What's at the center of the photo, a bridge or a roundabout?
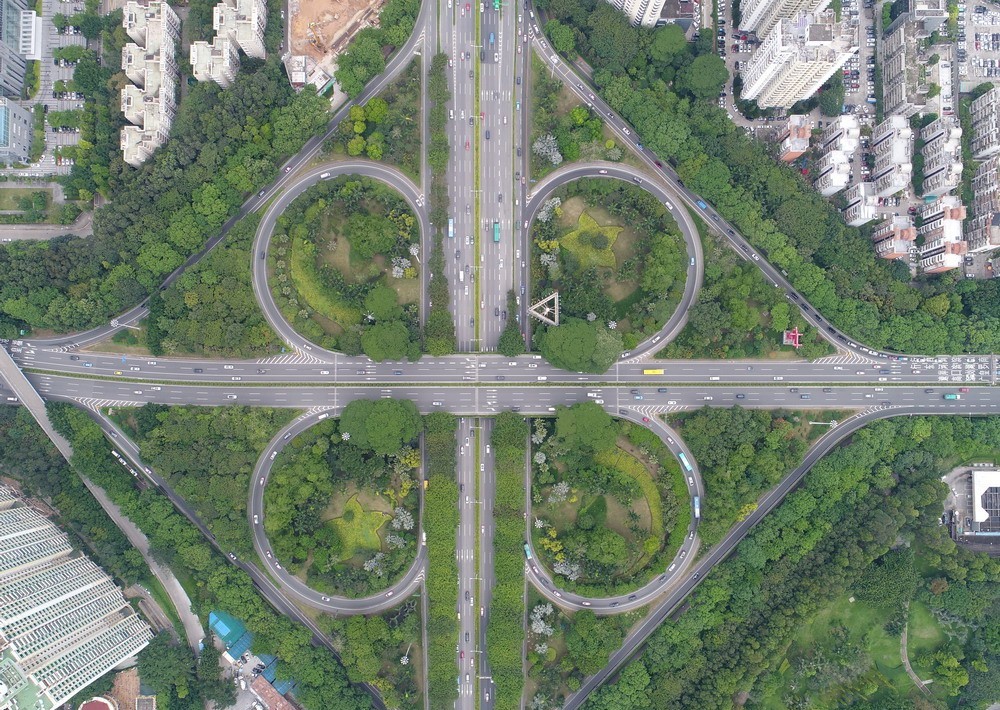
bridge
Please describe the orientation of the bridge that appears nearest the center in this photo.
from left to right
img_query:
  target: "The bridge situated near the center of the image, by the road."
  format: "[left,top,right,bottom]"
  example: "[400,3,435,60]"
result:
[408,355,541,416]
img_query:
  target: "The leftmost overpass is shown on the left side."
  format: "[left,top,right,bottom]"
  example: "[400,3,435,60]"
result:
[0,344,208,672]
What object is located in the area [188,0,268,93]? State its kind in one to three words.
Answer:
building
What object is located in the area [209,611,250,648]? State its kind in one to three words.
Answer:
shed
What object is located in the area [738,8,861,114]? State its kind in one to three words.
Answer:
building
